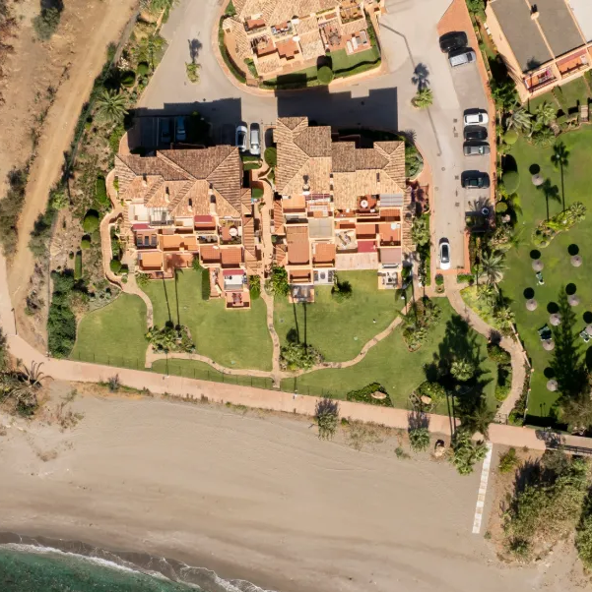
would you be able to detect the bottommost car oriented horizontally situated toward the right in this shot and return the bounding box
[460,172,490,186]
